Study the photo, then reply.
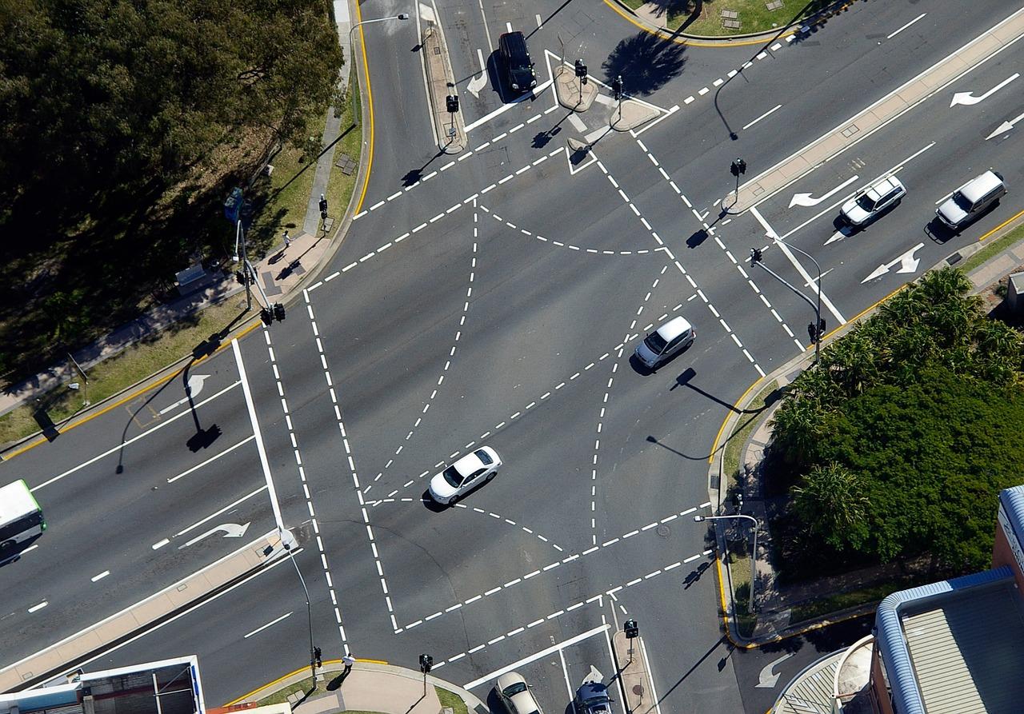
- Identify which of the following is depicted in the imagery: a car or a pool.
car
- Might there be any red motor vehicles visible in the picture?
No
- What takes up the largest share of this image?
paved ground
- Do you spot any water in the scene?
No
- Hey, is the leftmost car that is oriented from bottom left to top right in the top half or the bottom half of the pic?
bottom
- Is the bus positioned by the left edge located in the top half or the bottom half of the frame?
bottom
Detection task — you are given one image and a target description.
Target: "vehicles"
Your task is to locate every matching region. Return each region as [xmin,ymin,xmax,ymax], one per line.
[0,480,48,561]
[499,673,549,714]
[495,20,539,91]
[838,169,910,229]
[635,312,699,370]
[577,683,616,714]
[930,166,1009,238]
[425,444,502,507]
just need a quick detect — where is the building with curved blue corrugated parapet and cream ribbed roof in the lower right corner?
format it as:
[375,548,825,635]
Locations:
[773,562,1024,714]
